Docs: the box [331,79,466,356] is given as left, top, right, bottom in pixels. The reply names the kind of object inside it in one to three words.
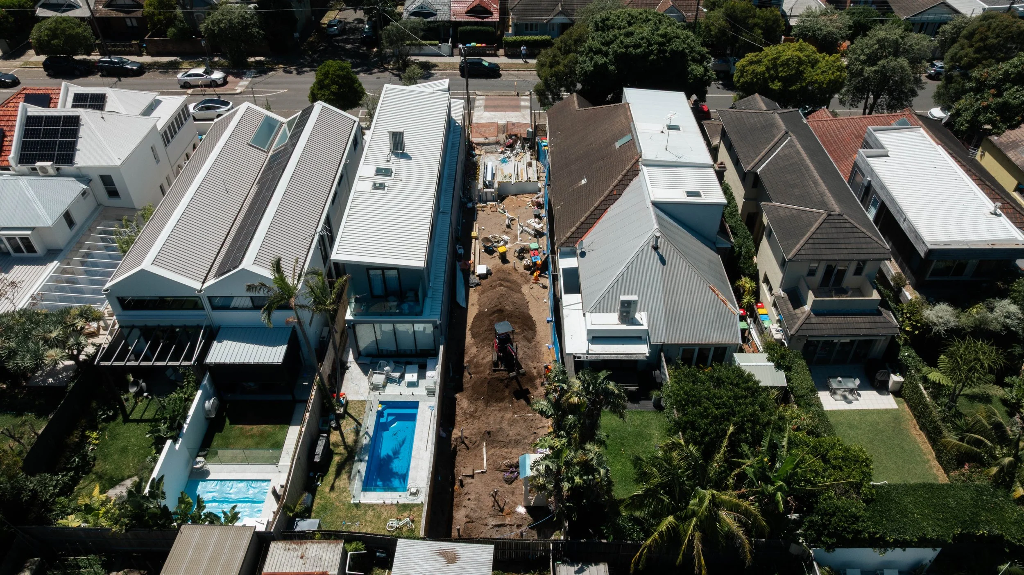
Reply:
house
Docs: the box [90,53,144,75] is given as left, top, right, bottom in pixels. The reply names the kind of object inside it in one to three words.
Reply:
car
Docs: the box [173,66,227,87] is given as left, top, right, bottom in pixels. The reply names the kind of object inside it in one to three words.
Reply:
car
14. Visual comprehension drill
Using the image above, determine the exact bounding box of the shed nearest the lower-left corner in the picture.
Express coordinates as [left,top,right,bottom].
[162,525,262,575]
